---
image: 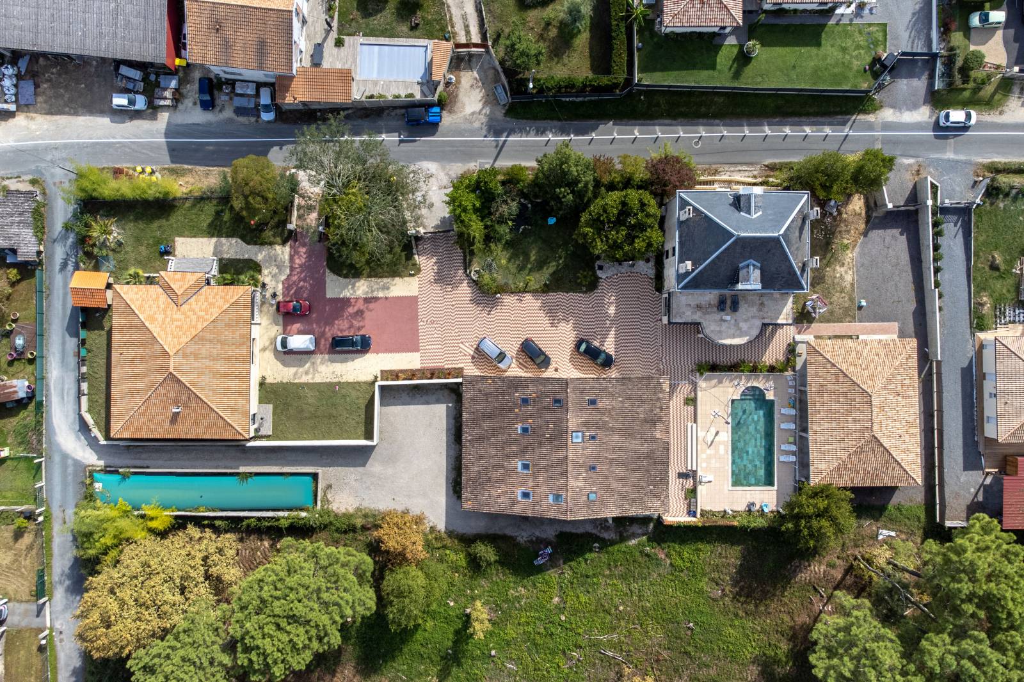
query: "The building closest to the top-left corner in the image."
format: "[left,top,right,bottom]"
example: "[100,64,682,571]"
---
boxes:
[0,0,182,73]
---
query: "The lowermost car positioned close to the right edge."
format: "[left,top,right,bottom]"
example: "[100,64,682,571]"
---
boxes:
[936,109,976,128]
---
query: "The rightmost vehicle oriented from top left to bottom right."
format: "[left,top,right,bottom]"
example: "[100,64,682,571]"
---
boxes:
[574,337,614,369]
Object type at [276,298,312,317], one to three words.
car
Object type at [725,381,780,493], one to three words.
swimming pool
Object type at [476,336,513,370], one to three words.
car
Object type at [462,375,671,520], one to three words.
barn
